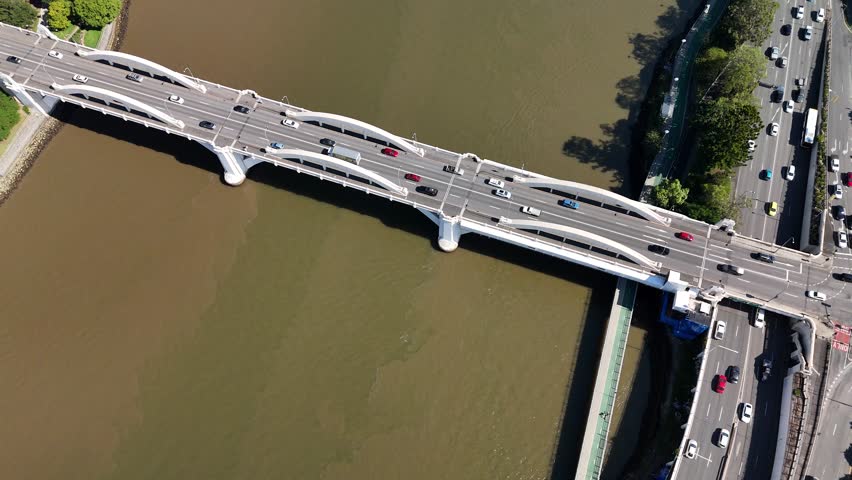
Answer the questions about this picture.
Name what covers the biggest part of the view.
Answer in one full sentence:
The largest share of the image is taken up by water.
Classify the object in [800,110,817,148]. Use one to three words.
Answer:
vehicle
